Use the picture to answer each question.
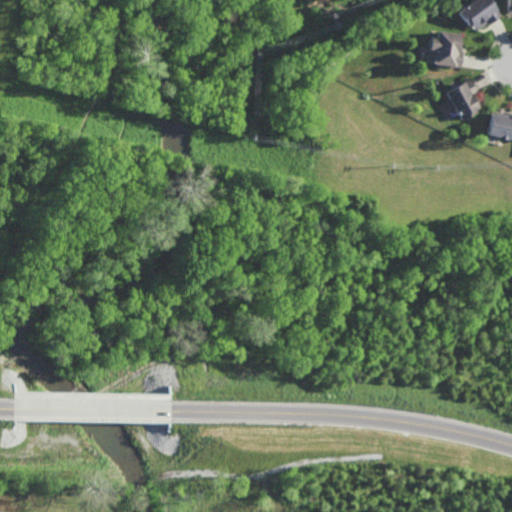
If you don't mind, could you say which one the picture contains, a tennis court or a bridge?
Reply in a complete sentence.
This aerial view contains a bridge.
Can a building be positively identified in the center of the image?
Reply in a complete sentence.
No, there's no building to be seen in the center of the image.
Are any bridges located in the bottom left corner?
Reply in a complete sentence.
Yes, a bridge can be seen in the bottom left corner.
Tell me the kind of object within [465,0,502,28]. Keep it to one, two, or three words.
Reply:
house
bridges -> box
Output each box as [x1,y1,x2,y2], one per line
[13,386,172,430]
